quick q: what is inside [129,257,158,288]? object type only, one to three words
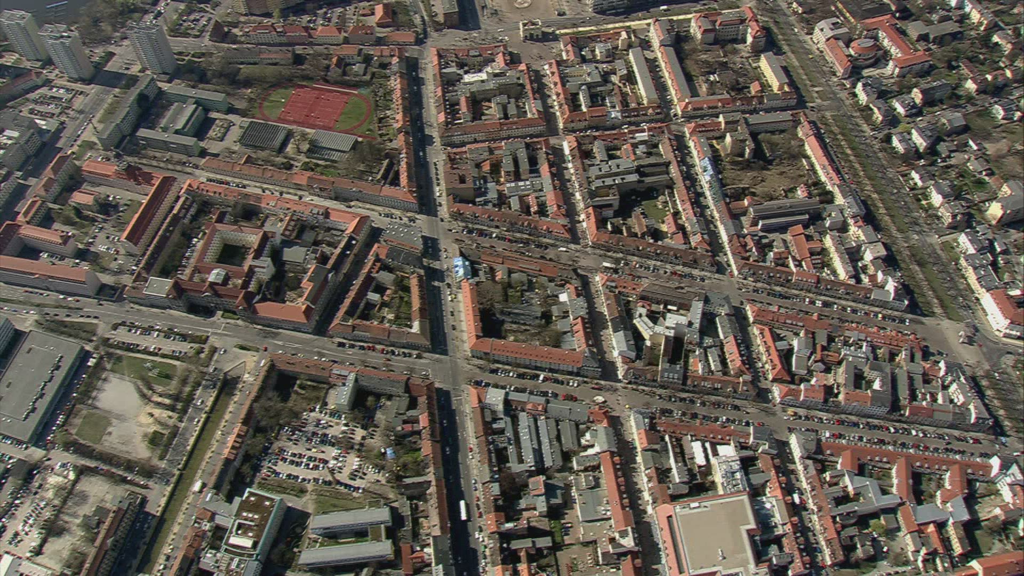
house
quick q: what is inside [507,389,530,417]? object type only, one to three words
building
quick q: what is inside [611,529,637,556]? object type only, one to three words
building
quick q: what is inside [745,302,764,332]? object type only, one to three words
house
